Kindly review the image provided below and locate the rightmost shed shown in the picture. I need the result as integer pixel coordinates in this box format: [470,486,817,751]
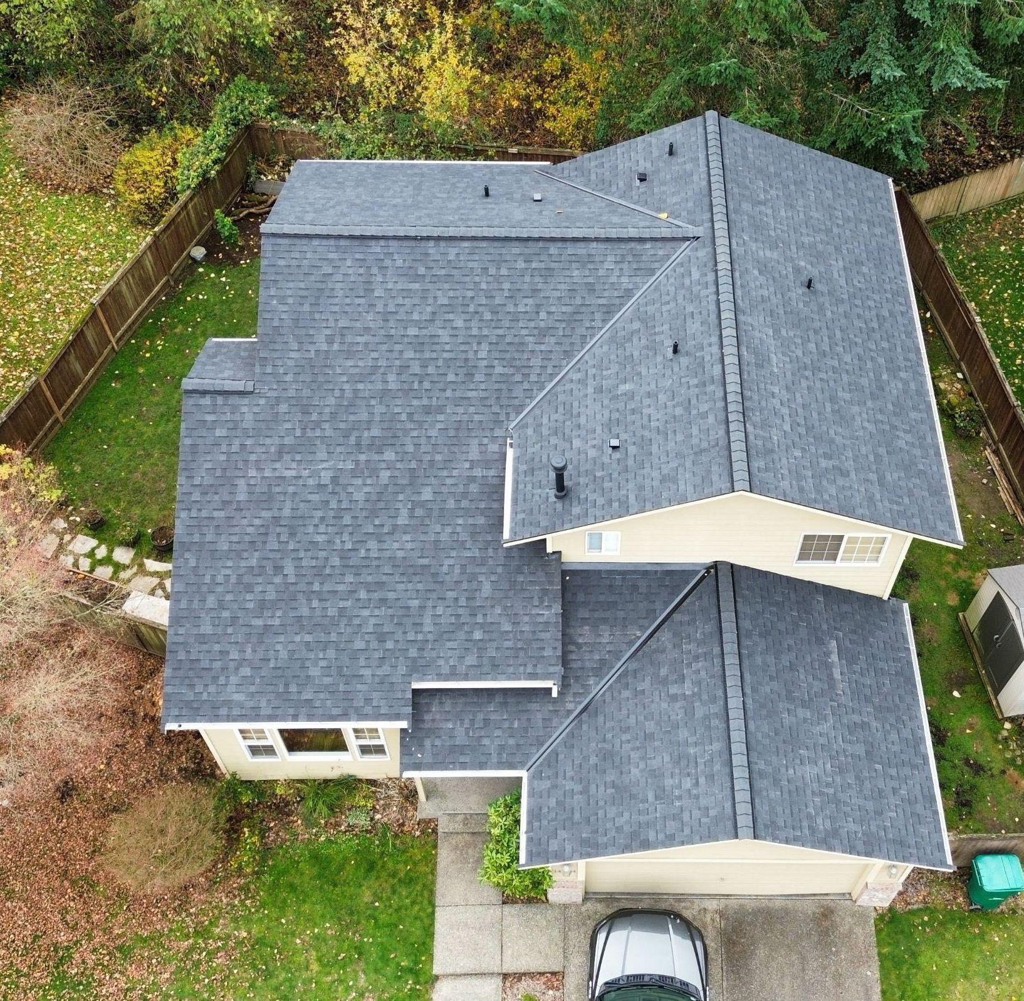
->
[953,560,1024,724]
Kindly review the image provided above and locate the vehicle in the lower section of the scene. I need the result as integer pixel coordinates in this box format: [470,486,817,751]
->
[589,904,708,1001]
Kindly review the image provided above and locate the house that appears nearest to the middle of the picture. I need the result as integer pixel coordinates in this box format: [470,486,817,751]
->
[164,111,965,911]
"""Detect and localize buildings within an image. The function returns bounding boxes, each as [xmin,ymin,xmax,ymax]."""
[953,560,1024,724]
[164,111,965,911]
